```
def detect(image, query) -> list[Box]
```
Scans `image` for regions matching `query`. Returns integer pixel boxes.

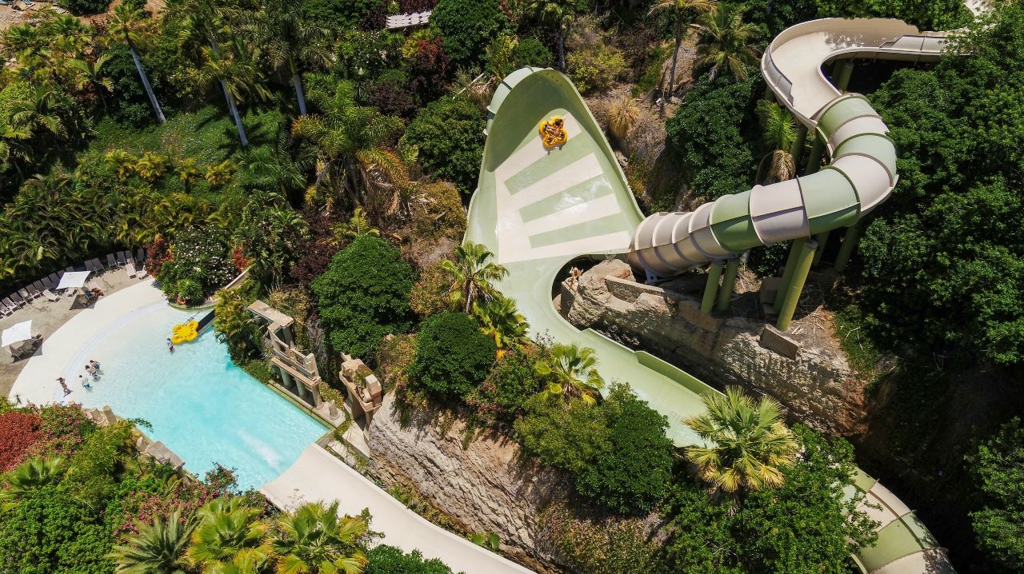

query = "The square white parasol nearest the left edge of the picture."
[2,320,36,358]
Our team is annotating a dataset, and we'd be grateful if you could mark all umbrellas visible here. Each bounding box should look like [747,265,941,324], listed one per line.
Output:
[2,320,36,358]
[56,271,90,304]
